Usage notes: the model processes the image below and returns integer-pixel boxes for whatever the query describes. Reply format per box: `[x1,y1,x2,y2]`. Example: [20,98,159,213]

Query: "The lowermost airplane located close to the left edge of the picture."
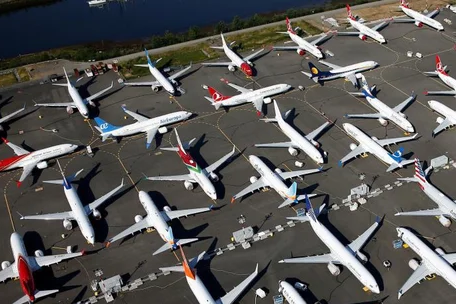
[0,233,85,304]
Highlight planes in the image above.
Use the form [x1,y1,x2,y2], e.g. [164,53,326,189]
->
[198,33,265,79]
[31,69,113,120]
[339,124,416,170]
[104,192,213,254]
[94,105,192,146]
[280,196,379,293]
[161,245,260,304]
[0,233,85,304]
[333,5,387,46]
[205,78,290,114]
[144,131,235,200]
[395,160,456,230]
[269,19,328,59]
[16,163,126,245]
[120,50,192,97]
[0,136,78,185]
[232,156,322,207]
[427,101,456,135]
[390,0,443,33]
[251,102,330,165]
[0,104,27,134]
[397,228,456,296]
[344,77,414,135]
[424,57,456,97]
[304,56,378,88]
